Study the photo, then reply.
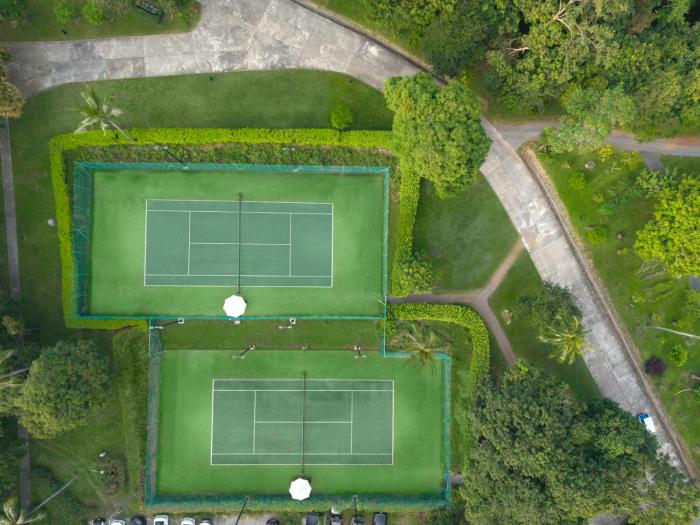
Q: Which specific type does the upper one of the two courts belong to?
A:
tennis court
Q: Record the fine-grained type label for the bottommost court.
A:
tennis court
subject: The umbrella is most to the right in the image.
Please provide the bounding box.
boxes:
[288,476,312,500]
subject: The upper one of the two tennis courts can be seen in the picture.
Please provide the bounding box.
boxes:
[90,171,385,318]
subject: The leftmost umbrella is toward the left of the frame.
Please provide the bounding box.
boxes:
[223,294,246,317]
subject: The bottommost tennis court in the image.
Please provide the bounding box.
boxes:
[159,349,446,496]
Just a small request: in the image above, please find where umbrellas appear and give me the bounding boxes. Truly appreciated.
[288,476,312,500]
[223,294,246,317]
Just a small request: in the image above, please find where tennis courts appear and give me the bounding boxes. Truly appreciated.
[159,349,446,496]
[90,171,385,318]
